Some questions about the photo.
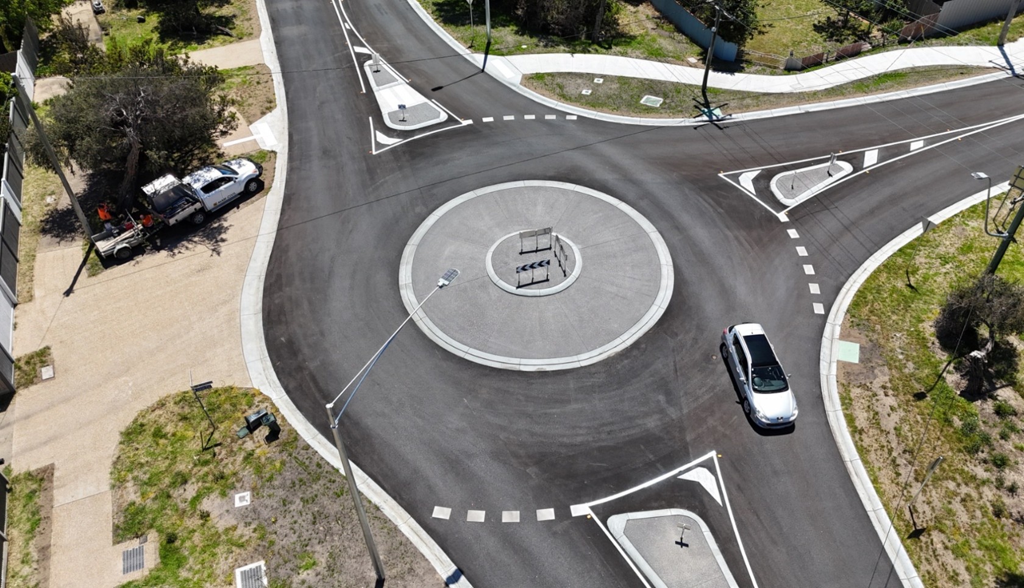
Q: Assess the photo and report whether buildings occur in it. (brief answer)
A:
No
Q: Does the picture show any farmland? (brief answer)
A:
No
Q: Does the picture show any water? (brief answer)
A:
No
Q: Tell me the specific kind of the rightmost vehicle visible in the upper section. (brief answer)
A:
truck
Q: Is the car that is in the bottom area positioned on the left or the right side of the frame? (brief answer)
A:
right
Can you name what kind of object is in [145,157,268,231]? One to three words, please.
truck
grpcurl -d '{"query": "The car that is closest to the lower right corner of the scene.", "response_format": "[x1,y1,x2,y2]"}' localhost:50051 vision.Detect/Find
[720,326,800,434]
